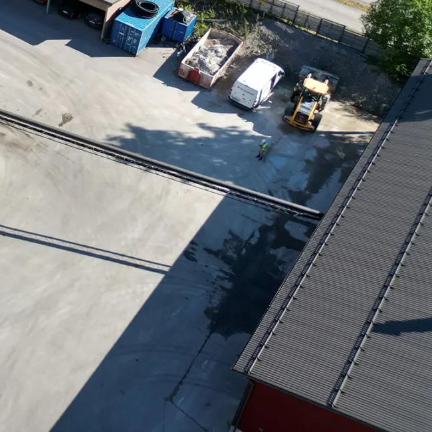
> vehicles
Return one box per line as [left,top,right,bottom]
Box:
[30,0,55,7]
[285,63,344,127]
[61,0,92,20]
[234,58,285,107]
[83,7,106,30]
